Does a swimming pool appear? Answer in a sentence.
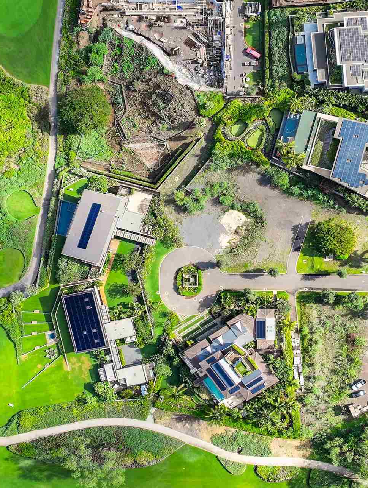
Yes, the image includes a swimming pool.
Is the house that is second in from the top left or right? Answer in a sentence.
The house that is second in from the top appears in the right half of the scene.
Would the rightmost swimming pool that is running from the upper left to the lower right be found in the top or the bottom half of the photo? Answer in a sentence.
The rightmost swimming pool that is running from the upper left to the lower right is in the bottom half of the image.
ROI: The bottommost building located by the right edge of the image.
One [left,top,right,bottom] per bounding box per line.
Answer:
[272,110,368,199]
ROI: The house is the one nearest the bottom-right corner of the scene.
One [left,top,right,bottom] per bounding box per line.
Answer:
[179,308,279,408]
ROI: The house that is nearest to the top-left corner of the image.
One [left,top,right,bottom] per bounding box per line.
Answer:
[62,187,156,266]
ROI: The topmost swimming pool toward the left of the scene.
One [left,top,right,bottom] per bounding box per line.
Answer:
[56,199,79,237]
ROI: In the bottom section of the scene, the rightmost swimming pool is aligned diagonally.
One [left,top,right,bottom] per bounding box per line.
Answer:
[203,375,226,403]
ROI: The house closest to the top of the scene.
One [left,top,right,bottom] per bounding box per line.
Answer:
[304,8,368,90]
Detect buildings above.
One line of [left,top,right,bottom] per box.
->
[179,308,279,408]
[304,8,368,90]
[62,187,156,266]
[272,110,368,199]
[62,288,156,387]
